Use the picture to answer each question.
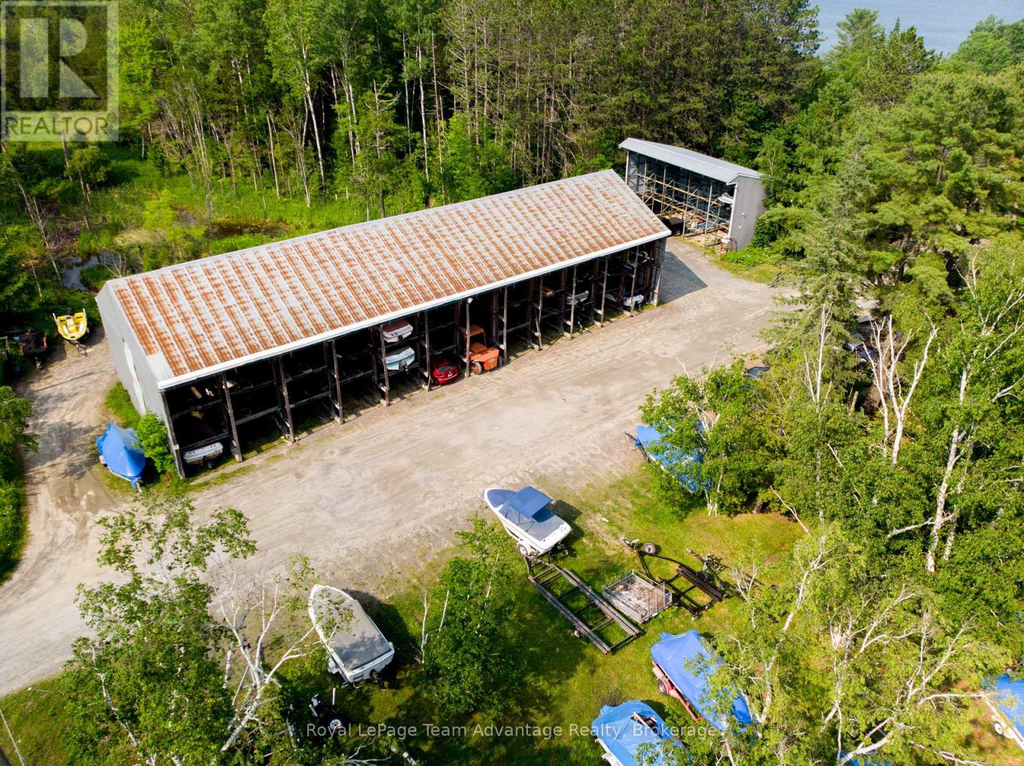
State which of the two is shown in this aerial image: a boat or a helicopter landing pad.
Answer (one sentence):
There is a boat in the scene.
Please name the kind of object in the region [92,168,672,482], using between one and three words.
shed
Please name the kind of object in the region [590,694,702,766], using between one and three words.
boat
